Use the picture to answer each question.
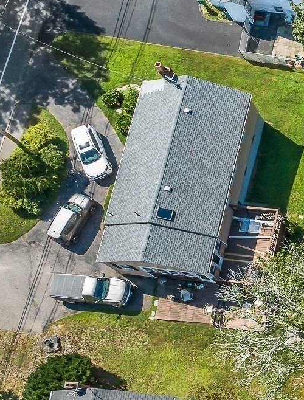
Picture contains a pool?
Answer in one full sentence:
No, I can see no pool in this picture.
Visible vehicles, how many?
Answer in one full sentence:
My tally gives 3 vehicles in this view.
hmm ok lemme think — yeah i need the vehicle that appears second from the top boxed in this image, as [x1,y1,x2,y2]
[45,192,102,247]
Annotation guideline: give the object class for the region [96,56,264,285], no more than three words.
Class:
house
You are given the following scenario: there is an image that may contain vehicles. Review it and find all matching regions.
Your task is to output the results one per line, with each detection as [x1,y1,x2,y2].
[52,274,131,305]
[72,126,115,182]
[45,192,102,247]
